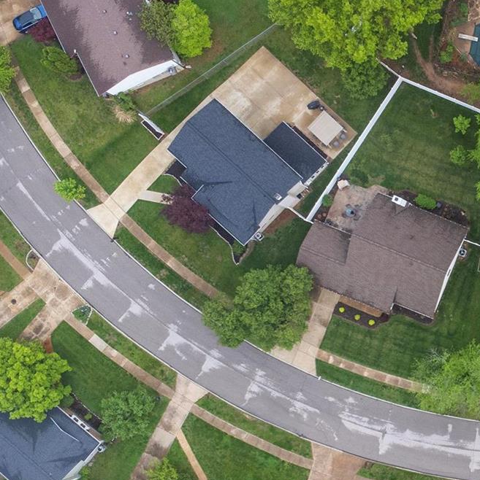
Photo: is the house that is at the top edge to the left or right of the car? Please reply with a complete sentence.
In the image, the house that is at the top edge sits on the right side of the car.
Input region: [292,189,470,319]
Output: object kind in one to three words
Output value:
house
